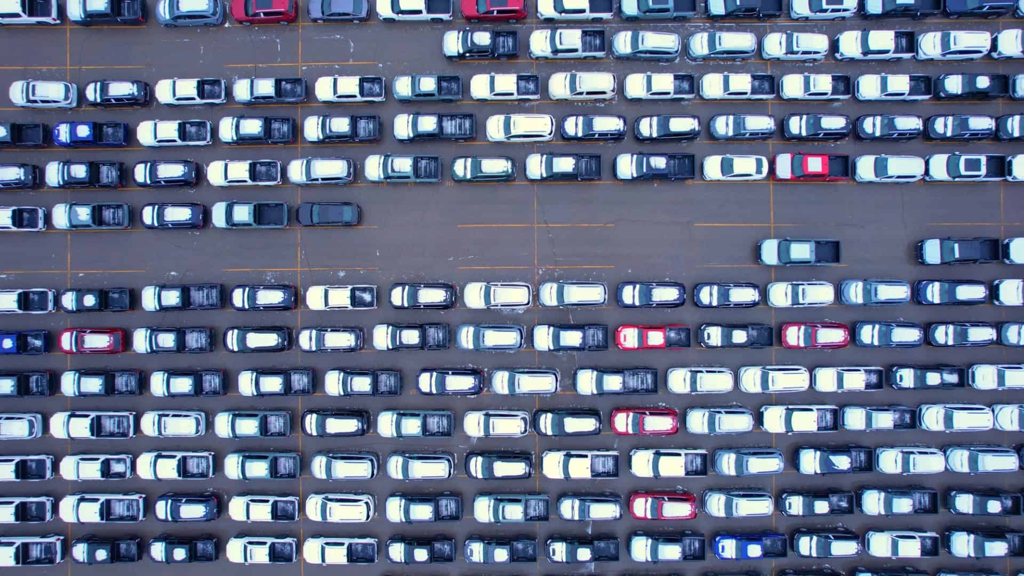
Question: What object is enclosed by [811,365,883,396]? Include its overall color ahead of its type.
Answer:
white truck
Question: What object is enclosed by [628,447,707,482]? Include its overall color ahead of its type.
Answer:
white truck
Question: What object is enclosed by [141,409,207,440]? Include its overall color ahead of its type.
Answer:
white car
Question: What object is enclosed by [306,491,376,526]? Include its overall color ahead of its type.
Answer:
white car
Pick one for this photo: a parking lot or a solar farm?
parking lot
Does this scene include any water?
No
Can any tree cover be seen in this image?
No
